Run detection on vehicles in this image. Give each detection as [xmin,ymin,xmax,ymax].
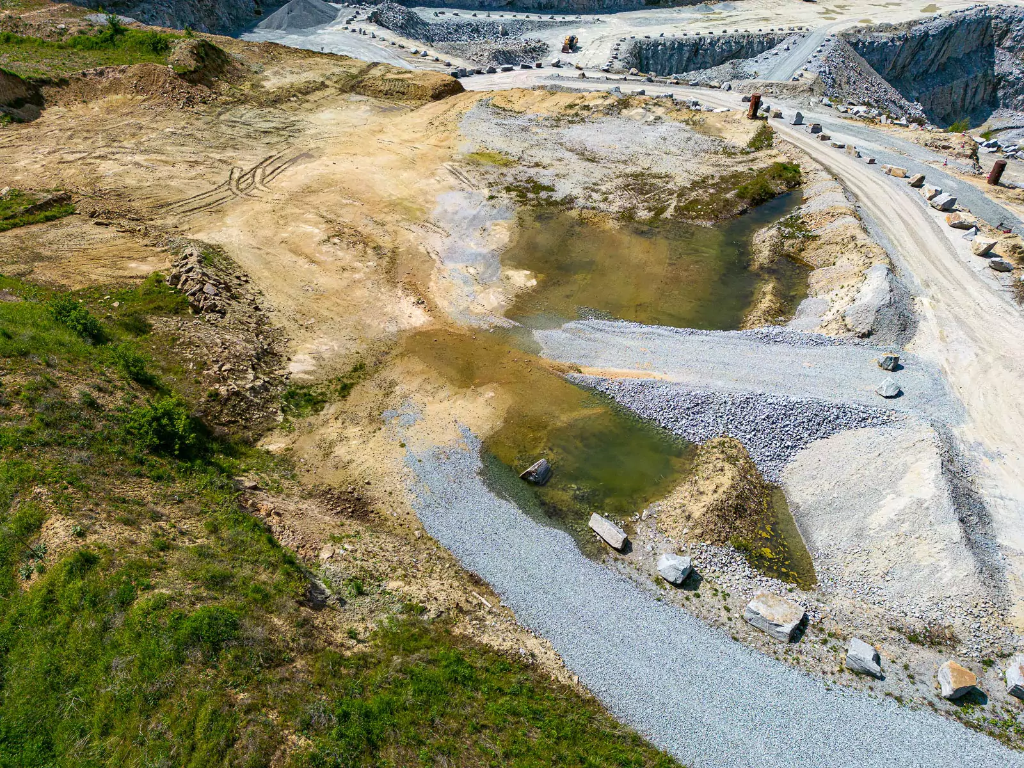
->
[558,34,584,55]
